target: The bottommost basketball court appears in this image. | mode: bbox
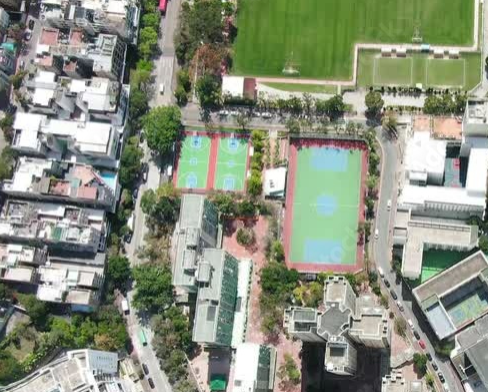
[442,282,488,334]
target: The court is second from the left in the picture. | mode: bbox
[285,139,369,275]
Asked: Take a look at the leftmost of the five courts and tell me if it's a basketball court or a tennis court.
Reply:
basketball court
